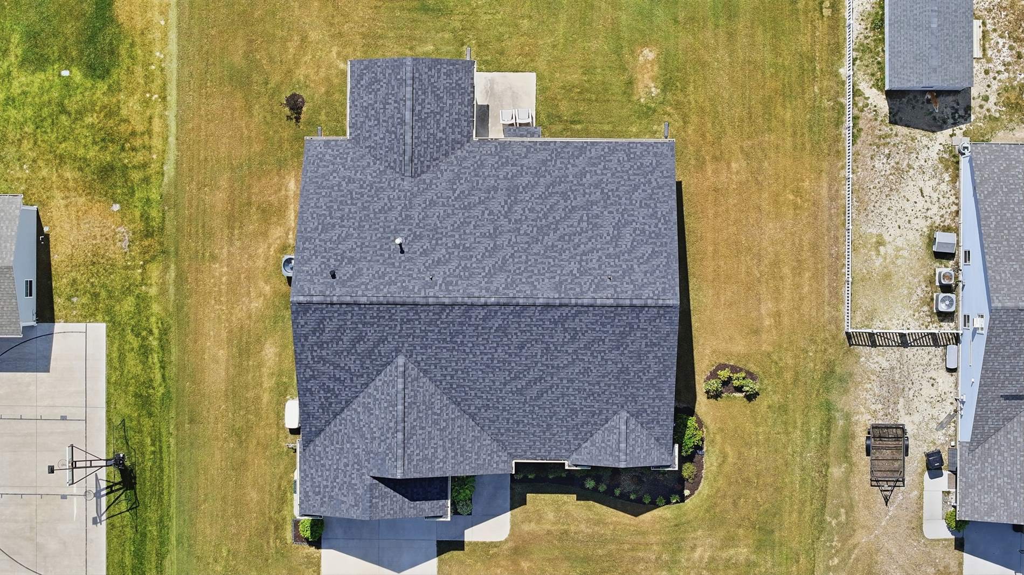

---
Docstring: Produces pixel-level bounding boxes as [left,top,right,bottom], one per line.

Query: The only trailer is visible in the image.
[865,424,910,506]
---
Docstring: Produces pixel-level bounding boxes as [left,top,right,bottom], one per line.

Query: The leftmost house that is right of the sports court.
[290,47,680,520]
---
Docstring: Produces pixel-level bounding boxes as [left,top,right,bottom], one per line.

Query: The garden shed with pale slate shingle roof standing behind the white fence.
[884,0,973,90]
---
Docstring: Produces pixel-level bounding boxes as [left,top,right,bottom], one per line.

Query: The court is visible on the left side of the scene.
[0,323,106,575]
